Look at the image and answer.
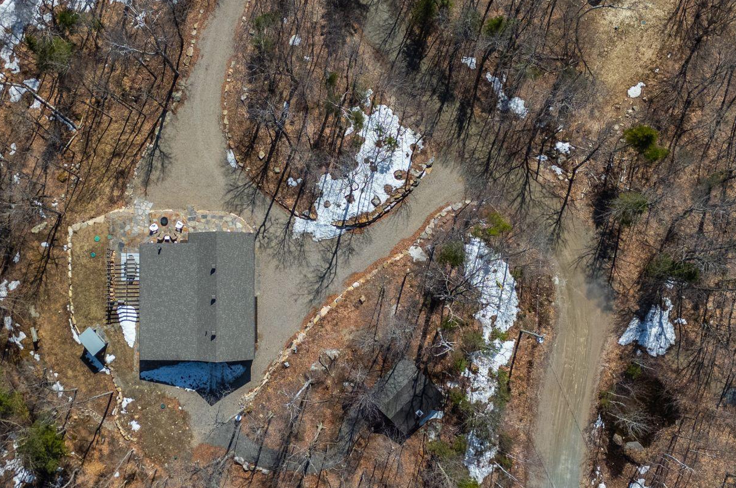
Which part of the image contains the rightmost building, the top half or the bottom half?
bottom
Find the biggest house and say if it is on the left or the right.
left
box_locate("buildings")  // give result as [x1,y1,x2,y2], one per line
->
[139,230,256,367]
[365,359,442,434]
[78,327,111,355]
